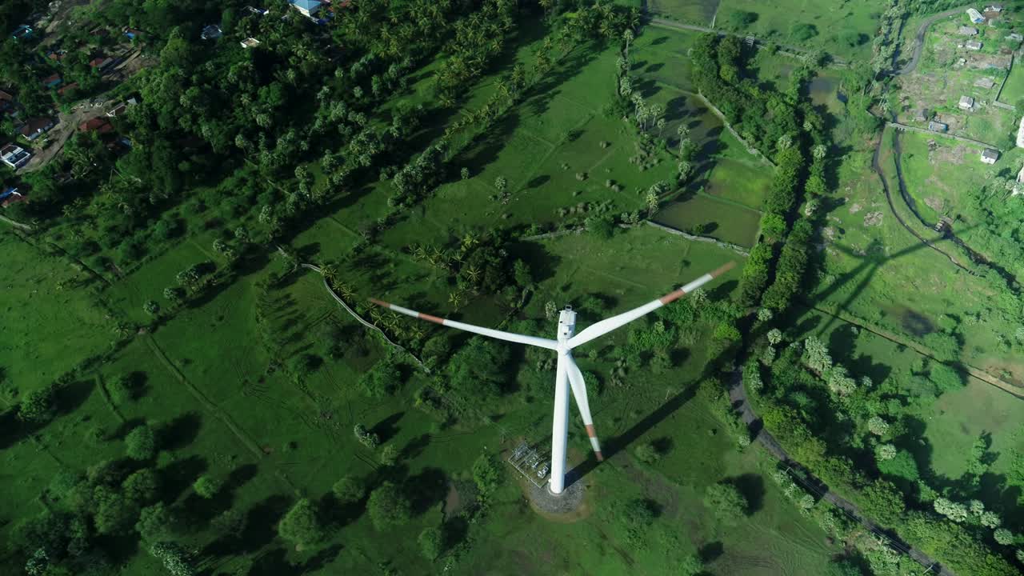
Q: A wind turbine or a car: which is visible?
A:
wind turbine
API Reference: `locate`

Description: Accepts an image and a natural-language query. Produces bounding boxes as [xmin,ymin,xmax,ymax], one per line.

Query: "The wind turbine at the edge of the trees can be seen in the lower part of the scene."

[369,267,735,500]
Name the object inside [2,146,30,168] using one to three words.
house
